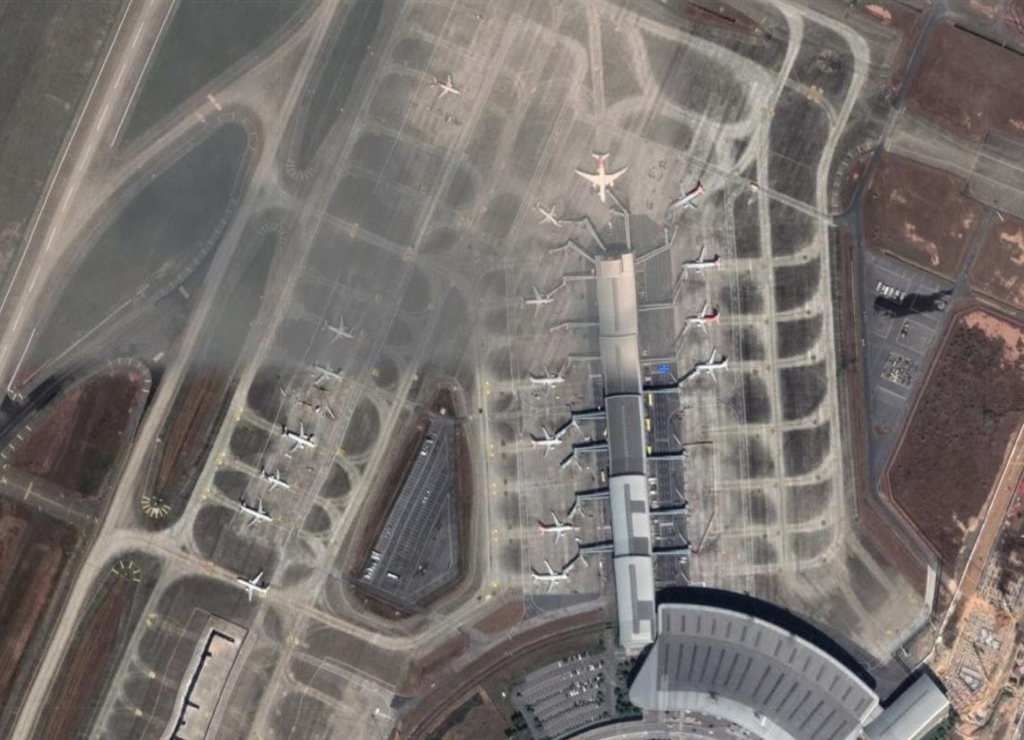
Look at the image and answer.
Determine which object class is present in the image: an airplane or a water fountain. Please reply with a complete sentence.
The one in the frame is an airplane.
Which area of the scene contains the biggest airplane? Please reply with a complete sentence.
The biggest airplane sits in the top section of the image.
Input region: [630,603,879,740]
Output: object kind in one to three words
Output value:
building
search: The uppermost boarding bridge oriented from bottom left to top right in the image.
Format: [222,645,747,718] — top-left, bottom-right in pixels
[635,226,678,267]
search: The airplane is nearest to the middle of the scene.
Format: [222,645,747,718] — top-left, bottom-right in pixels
[531,364,565,395]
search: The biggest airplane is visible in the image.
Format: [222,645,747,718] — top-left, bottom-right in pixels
[574,149,627,202]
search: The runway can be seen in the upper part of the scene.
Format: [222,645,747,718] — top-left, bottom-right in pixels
[0,0,174,424]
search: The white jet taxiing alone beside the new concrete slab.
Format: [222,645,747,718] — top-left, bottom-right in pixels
[235,569,267,599]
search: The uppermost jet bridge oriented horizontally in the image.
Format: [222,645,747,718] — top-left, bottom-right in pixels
[550,241,598,263]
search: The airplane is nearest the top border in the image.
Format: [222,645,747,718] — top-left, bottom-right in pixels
[431,76,461,99]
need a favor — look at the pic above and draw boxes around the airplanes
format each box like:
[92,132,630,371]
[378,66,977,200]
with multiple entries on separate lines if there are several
[531,364,565,395]
[538,513,574,544]
[235,569,267,599]
[683,246,720,279]
[522,287,554,315]
[260,471,290,492]
[532,559,568,592]
[696,348,728,381]
[531,427,562,457]
[239,498,272,527]
[431,76,461,99]
[686,301,719,334]
[574,149,627,202]
[310,357,343,386]
[535,202,560,226]
[281,423,315,453]
[321,315,354,344]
